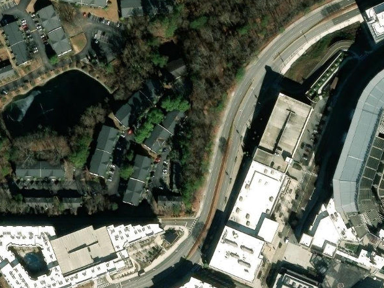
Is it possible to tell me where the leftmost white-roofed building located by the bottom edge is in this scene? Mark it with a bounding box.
[0,225,164,288]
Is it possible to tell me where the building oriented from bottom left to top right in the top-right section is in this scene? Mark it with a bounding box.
[306,52,346,100]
